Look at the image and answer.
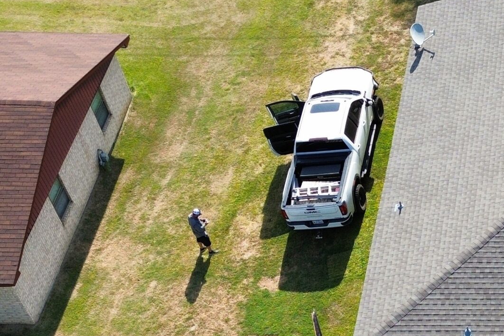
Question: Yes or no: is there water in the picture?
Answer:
No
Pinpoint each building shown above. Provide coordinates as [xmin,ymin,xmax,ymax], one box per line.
[0,32,127,325]
[353,0,504,336]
